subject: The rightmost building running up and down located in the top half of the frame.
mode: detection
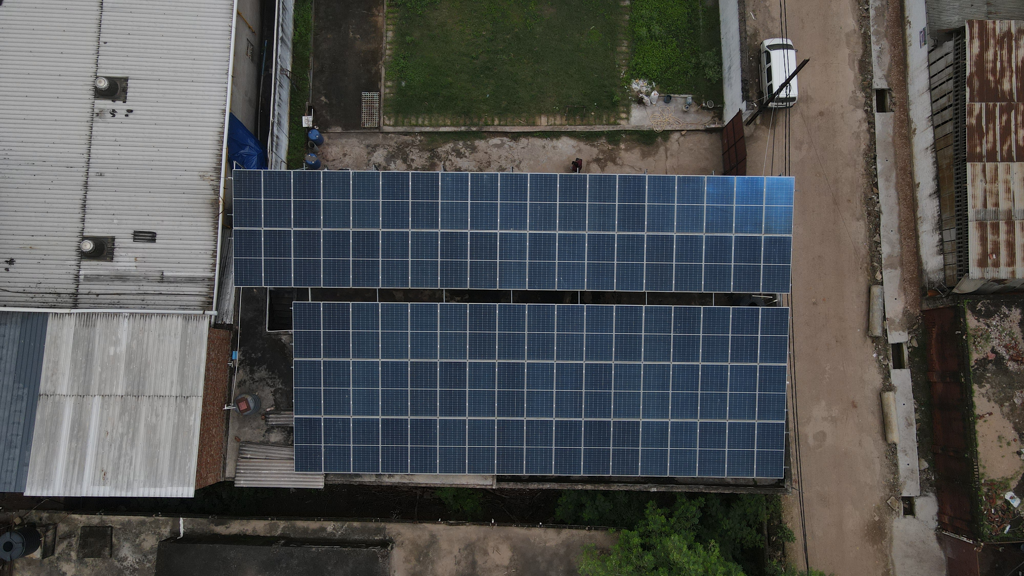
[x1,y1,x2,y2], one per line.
[909,0,1024,293]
